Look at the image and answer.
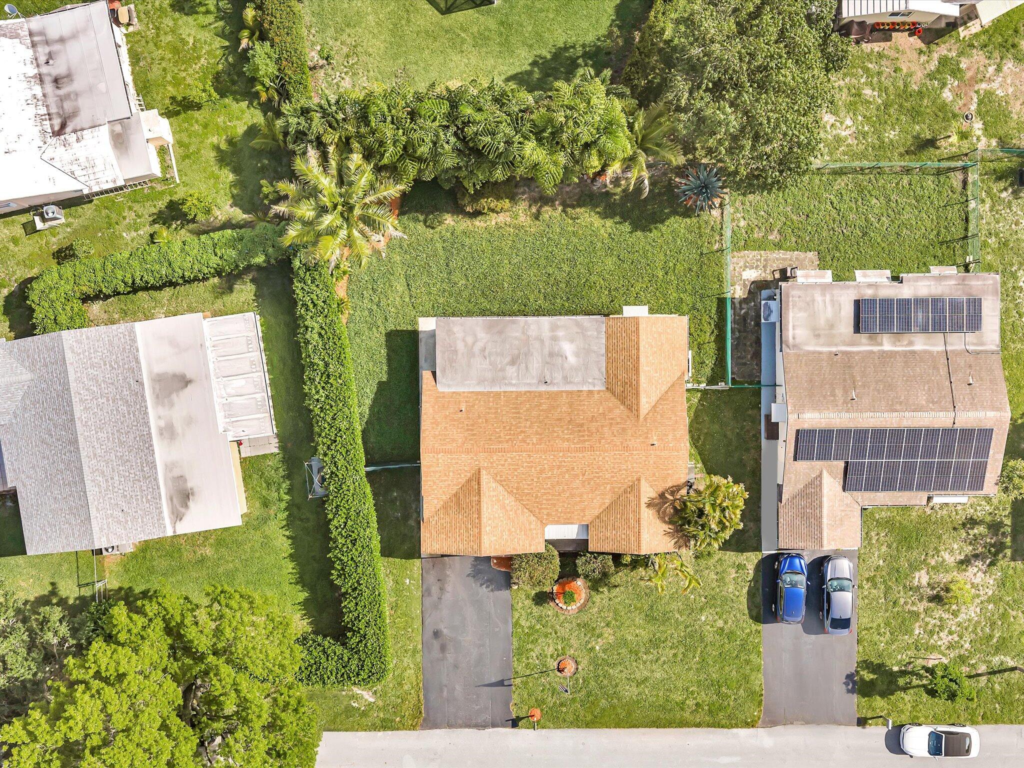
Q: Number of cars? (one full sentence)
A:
I count 3 cars.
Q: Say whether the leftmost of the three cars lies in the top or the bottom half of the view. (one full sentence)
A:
The leftmost of the three cars sits in the bottom half of the picture.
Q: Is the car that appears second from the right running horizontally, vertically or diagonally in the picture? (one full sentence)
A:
The car that appears second from the right runs vertically in the image.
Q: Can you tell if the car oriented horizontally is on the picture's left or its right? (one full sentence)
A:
The car oriented horizontally is on the right side of the image.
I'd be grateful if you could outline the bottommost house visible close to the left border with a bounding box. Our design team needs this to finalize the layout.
[0,312,280,559]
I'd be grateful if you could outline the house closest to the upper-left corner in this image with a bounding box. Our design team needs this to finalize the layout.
[0,0,166,216]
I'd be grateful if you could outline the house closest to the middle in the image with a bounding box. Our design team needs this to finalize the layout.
[420,305,692,556]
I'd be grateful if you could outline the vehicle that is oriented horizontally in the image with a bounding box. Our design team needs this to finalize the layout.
[897,723,980,763]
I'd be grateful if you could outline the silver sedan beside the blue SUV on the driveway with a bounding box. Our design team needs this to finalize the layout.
[820,555,858,635]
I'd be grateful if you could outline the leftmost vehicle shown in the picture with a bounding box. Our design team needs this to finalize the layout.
[774,551,812,623]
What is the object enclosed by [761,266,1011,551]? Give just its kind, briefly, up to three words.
house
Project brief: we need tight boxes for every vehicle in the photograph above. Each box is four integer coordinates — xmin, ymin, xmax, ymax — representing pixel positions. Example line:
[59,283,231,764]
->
[820,555,858,635]
[897,723,980,763]
[774,551,812,623]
